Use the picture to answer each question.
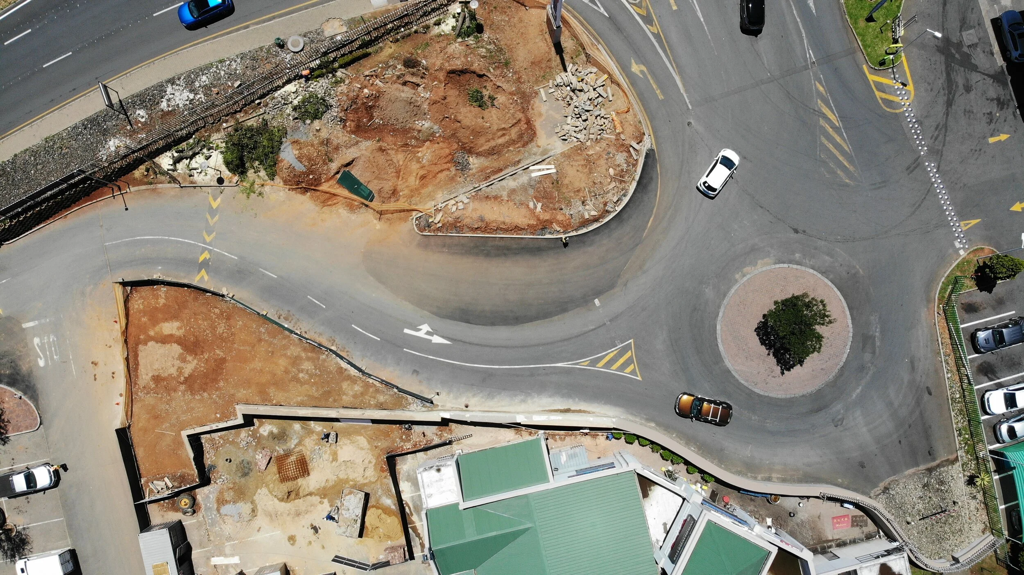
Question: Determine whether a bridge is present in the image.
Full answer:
No, no bridge can be seen from above.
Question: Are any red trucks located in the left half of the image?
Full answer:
No, in the left half of the image there is no red truck.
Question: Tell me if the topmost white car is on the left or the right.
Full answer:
The topmost white car is on the right side of the image.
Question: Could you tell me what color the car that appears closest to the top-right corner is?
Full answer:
The color of the car that appears closest to the top-right corner is black.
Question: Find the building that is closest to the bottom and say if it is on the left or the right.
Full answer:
You can find the building that is closest to the bottom on the right side of the picture.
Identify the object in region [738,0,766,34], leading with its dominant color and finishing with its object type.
black car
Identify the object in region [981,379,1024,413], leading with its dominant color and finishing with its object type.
white car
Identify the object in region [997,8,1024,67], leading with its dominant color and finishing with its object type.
black car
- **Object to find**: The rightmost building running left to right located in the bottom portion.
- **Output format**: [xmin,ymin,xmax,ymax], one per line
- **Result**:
[813,534,910,575]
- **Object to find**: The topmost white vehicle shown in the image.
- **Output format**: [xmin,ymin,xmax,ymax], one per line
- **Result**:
[695,147,741,199]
